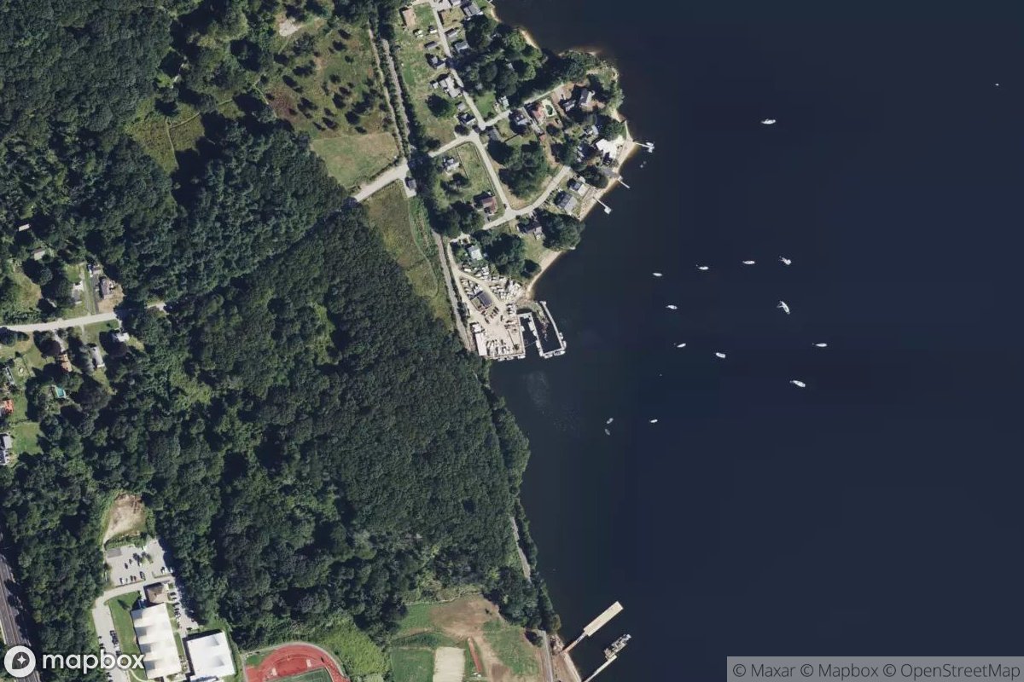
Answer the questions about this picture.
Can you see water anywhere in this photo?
Yes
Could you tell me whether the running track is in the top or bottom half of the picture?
bottom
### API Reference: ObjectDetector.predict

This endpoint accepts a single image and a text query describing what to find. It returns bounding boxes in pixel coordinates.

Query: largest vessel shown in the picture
[605,635,632,660]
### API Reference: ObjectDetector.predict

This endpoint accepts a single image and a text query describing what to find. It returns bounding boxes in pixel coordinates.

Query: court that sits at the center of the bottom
[434,647,465,682]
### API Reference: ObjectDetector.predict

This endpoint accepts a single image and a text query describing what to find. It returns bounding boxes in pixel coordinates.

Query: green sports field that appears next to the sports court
[392,649,433,682]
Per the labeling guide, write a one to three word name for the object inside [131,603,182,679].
building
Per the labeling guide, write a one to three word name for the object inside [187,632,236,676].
building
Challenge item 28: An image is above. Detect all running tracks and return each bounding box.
[246,640,345,682]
